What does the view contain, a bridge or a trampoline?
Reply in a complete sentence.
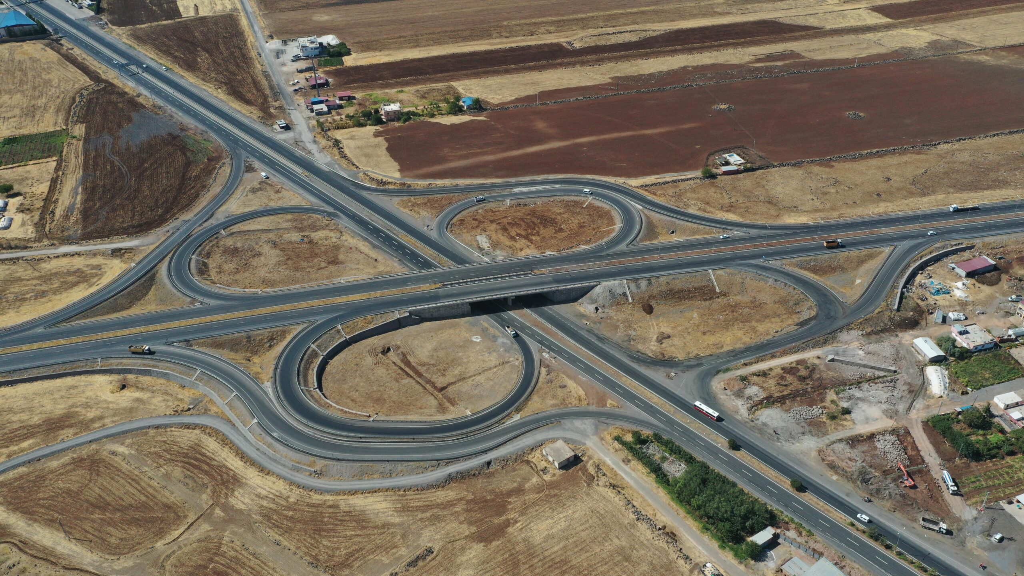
I can see a bridge in this picture.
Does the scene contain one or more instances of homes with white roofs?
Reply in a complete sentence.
Yes, the image includes a home with a white roof.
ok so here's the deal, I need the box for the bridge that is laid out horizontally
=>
[341,248,596,323]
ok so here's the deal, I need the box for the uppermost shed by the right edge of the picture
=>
[952,256,996,279]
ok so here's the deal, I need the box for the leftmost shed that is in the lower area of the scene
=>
[543,440,575,466]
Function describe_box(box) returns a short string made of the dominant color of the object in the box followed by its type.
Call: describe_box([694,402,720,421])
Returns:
white vehicle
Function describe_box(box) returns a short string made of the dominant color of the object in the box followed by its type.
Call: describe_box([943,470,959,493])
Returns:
white vehicle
